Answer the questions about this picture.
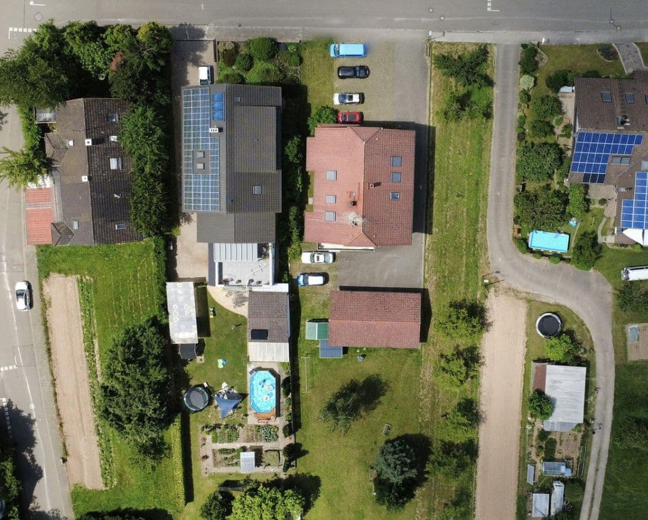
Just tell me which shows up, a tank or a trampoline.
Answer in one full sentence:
The image shows a trampoline.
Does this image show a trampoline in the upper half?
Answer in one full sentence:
No, there's no trampoline to be seen in the upper half.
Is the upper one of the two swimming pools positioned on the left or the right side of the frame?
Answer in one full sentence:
The upper one of the two swimming pools appears in the right half of the scene.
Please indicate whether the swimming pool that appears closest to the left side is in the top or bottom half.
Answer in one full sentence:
The swimming pool that appears closest to the left side sits in the bottom half of the picture.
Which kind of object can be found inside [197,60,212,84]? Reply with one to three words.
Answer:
vehicle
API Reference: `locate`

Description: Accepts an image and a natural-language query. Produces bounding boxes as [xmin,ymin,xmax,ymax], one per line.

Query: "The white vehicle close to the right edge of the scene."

[620,264,648,282]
